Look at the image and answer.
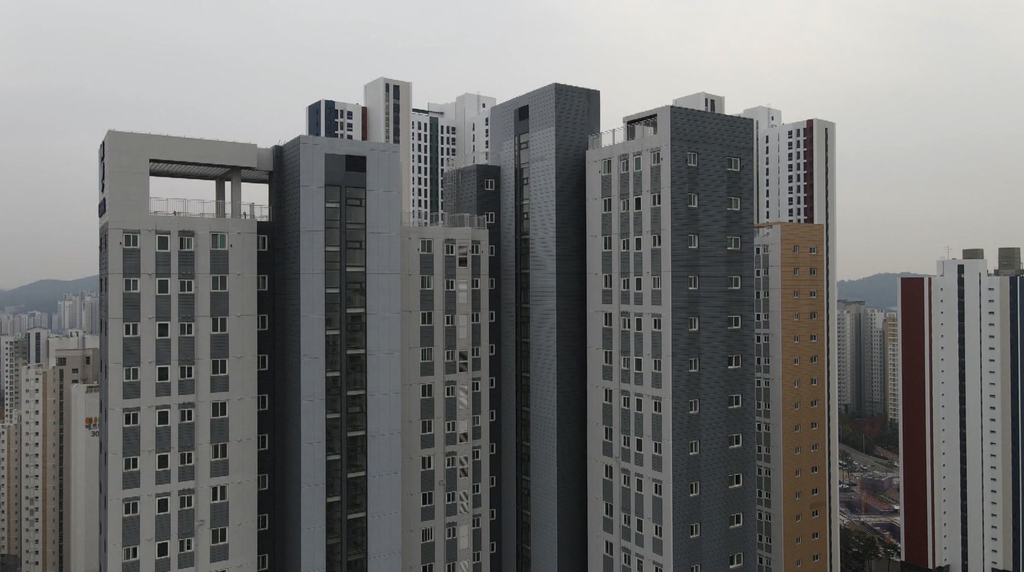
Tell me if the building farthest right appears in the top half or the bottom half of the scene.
bottom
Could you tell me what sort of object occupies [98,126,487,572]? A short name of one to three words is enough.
building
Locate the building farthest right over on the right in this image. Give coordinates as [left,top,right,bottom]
[898,259,1024,572]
